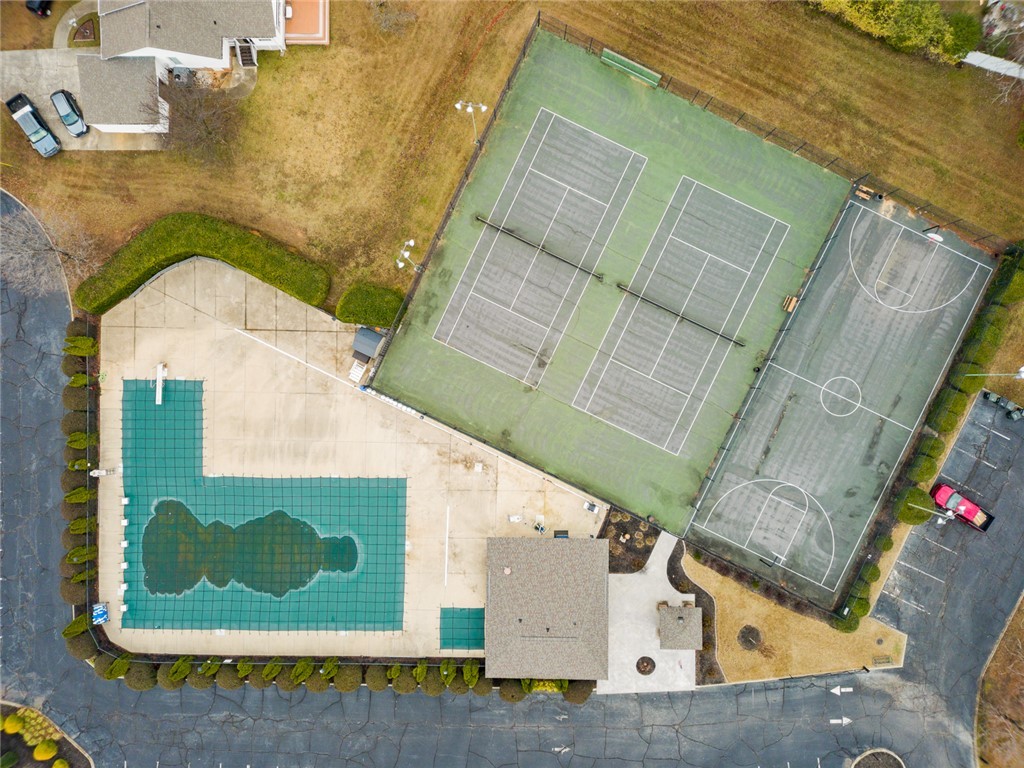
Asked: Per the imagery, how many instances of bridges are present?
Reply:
0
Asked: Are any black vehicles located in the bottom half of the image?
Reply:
No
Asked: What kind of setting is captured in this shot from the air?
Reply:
sports ground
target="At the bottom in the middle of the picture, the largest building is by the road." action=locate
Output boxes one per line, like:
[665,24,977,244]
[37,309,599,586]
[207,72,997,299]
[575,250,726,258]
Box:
[486,536,611,680]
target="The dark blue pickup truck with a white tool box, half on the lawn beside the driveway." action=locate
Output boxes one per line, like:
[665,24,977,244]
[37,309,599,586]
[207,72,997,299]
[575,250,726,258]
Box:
[4,92,62,159]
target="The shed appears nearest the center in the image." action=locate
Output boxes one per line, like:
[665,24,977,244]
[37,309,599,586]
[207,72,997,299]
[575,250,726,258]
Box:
[347,327,383,359]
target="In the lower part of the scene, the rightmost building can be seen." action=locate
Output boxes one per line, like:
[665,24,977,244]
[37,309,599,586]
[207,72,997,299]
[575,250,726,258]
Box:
[658,600,702,650]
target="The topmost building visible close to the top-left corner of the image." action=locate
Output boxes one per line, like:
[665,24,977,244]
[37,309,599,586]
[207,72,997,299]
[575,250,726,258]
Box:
[77,0,286,134]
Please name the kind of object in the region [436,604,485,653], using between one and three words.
swimming pool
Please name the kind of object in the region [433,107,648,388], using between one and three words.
tennis court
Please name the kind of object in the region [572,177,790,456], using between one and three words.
tennis court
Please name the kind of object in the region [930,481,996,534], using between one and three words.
truck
